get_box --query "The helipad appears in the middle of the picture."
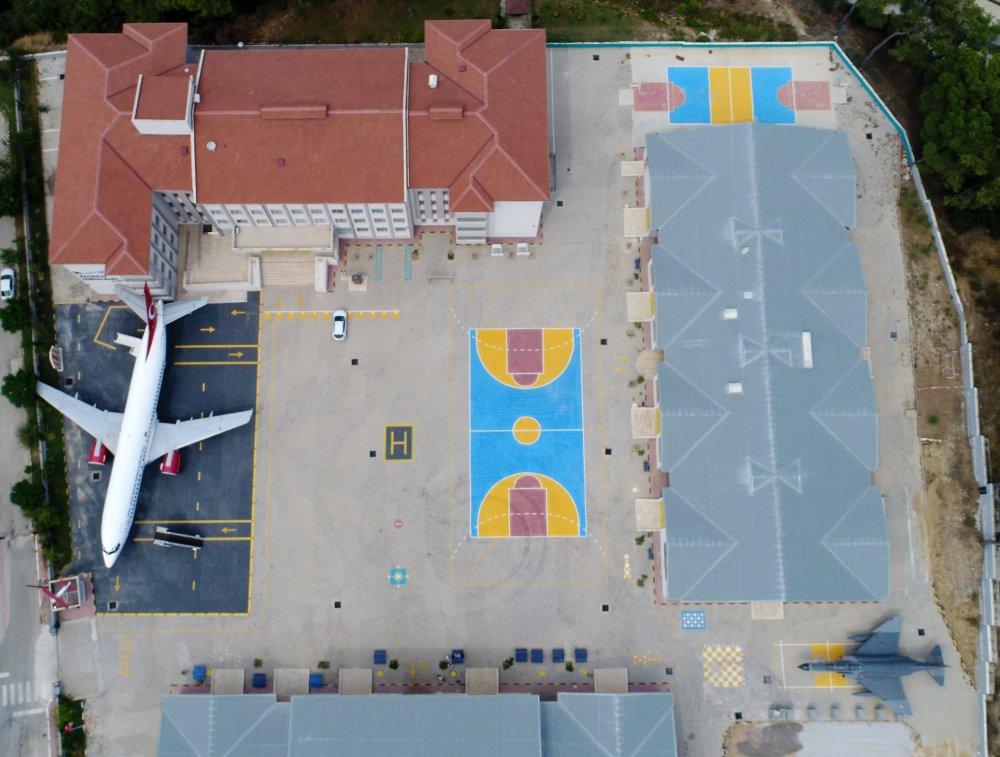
[385,424,414,462]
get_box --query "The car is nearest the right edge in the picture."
[331,309,348,340]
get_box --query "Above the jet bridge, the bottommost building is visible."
[49,21,550,300]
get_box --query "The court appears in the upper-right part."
[633,65,832,125]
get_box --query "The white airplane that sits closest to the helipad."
[33,276,252,568]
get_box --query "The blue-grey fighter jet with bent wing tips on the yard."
[797,617,952,713]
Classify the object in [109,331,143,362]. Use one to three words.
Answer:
jet bridge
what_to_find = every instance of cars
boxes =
[331,309,348,340]
[0,267,16,298]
